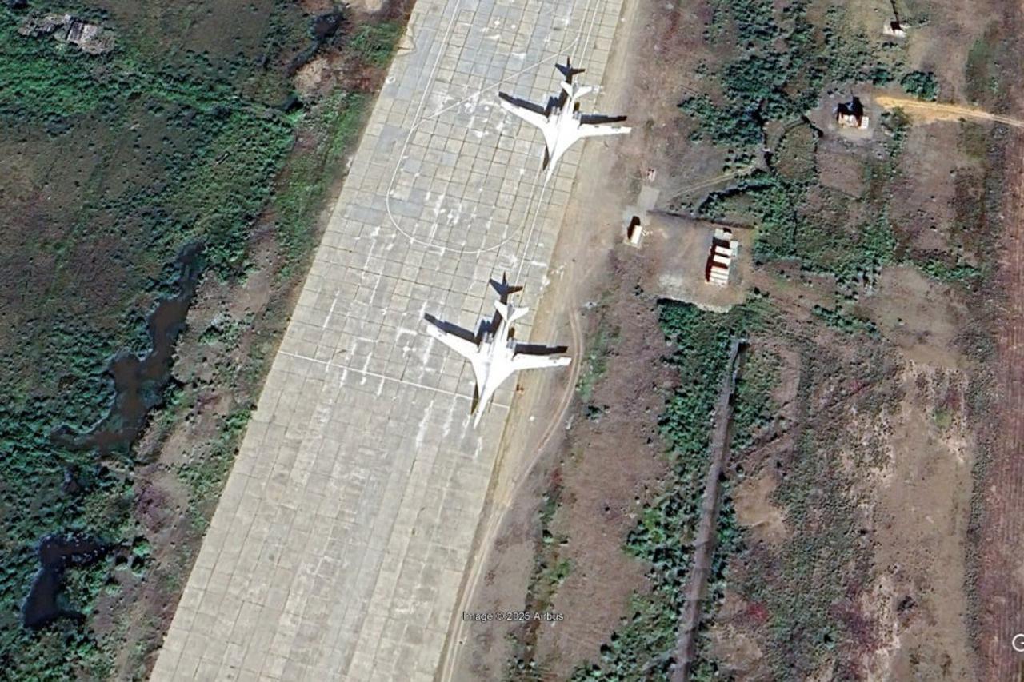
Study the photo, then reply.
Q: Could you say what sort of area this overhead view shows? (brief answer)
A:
airport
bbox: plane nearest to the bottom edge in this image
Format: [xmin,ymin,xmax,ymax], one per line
[427,299,573,429]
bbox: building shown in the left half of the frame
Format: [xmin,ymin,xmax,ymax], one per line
[22,13,98,44]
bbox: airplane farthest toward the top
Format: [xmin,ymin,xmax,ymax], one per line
[500,77,632,186]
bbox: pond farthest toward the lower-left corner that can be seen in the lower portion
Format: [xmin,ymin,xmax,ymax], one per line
[22,533,111,627]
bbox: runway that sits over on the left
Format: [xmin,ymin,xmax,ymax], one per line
[152,0,621,682]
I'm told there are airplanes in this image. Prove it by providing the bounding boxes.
[427,299,573,429]
[500,77,632,186]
